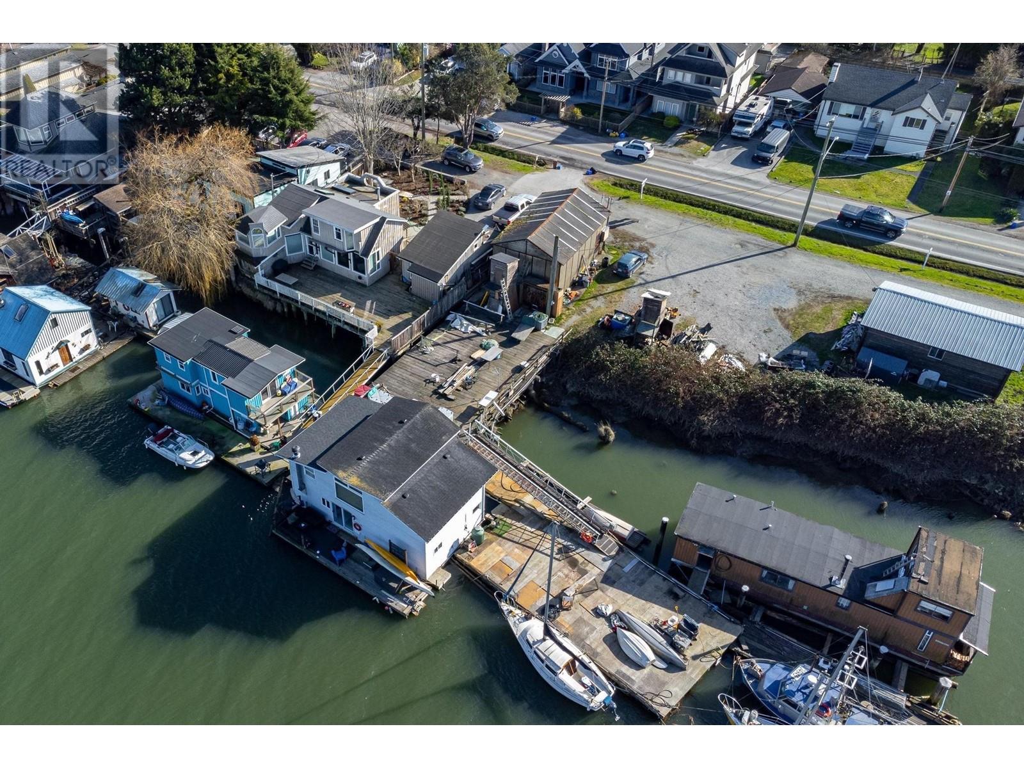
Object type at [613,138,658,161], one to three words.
car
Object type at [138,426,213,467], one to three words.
boat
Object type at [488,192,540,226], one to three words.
truck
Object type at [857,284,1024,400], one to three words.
barn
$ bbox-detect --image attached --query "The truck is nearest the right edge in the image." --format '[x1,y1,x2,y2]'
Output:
[841,205,905,237]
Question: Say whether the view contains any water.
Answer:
Yes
